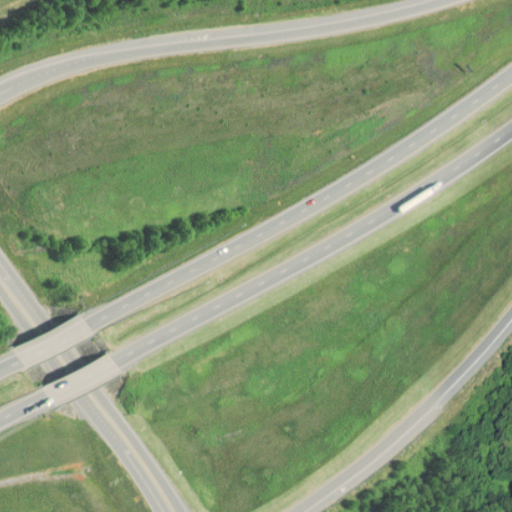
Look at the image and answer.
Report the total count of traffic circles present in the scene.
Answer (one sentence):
The count of traffic circles is 0.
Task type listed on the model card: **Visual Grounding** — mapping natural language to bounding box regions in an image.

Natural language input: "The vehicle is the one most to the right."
[404,180,446,210]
